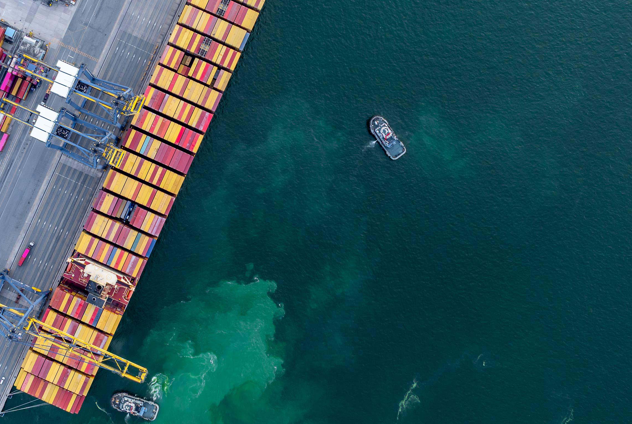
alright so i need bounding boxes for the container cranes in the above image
[0,271,149,385]
[0,95,121,175]
[10,51,145,135]
[0,57,47,93]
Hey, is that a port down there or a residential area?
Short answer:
port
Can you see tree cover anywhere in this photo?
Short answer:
No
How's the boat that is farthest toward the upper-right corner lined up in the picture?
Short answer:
at an angle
